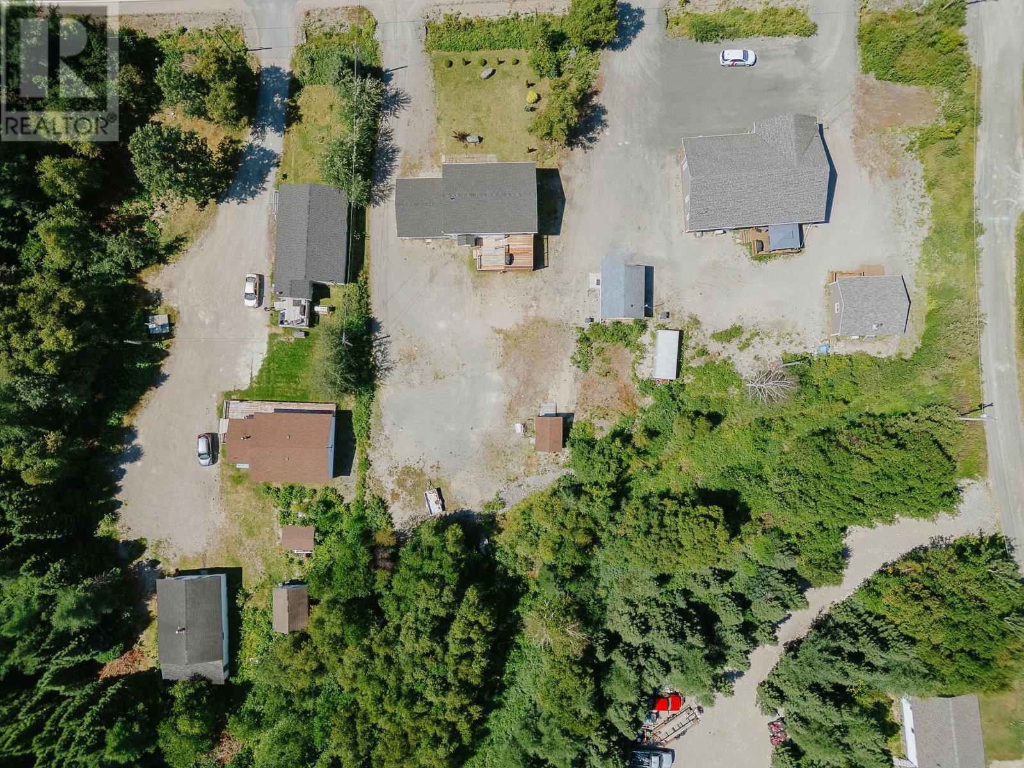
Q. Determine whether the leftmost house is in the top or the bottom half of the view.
bottom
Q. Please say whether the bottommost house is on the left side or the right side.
right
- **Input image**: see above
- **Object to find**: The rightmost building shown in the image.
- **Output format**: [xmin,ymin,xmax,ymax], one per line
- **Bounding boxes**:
[891,687,985,768]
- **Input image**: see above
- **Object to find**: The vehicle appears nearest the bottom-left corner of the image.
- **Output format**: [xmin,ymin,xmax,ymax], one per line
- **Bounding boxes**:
[194,434,212,466]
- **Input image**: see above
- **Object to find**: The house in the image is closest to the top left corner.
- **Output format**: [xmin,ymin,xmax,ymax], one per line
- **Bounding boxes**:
[269,183,351,301]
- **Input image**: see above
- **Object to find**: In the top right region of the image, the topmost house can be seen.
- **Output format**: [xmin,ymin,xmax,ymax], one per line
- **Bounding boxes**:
[675,107,832,234]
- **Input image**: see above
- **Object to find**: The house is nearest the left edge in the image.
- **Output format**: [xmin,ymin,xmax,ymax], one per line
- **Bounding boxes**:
[157,567,233,685]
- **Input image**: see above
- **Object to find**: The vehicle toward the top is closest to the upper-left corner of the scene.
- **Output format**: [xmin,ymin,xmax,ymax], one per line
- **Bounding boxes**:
[241,273,259,309]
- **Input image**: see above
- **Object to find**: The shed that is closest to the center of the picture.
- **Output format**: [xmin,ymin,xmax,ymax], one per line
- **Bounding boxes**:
[535,416,563,453]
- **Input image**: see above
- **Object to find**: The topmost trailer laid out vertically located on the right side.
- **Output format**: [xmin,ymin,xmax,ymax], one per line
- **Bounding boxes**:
[654,325,681,379]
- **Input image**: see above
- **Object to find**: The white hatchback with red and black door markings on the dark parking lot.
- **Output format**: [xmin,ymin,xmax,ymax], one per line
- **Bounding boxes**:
[720,47,756,66]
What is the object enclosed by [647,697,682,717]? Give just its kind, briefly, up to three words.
car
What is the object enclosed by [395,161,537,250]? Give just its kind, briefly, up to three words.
house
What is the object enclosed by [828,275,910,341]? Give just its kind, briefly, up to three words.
building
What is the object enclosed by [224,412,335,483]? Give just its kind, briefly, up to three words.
house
